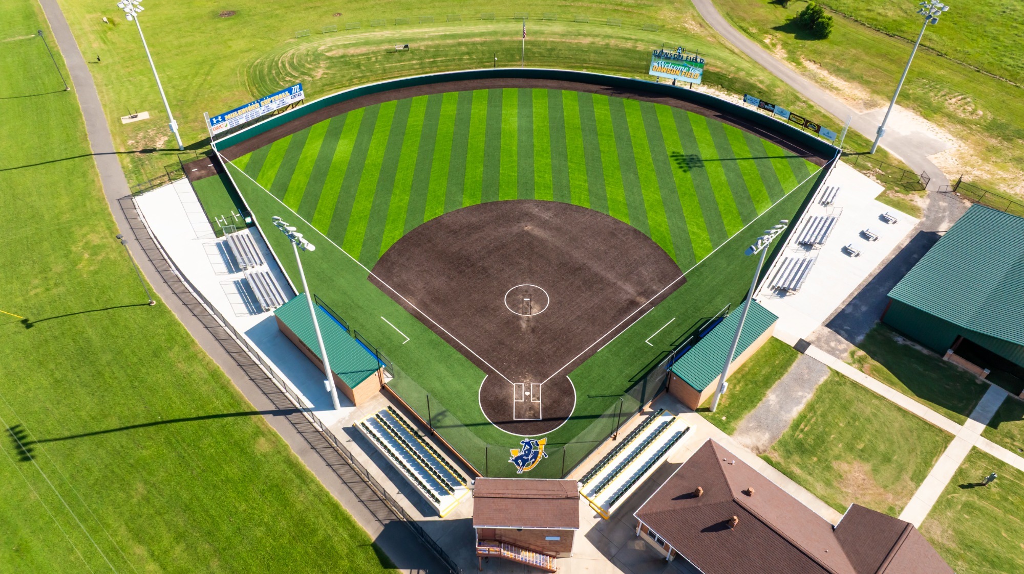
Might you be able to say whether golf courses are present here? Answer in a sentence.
No, no golf course is visible in the view.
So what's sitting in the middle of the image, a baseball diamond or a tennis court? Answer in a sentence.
The feature located in the middle of the image is a baseball diamond.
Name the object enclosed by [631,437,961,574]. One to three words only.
building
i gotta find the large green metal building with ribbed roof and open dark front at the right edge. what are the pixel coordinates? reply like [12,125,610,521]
[880,203,1024,404]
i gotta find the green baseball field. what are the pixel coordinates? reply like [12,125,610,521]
[218,78,836,478]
